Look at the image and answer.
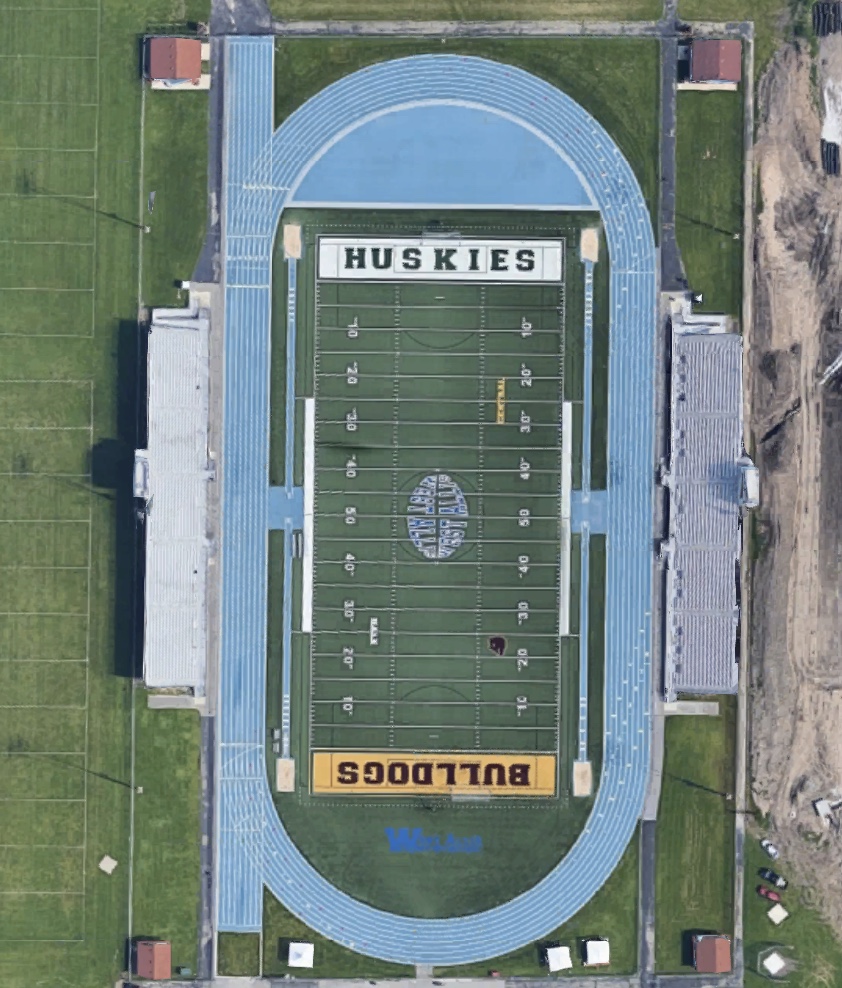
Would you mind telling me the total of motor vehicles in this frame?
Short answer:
3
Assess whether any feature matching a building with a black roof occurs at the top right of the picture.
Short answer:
No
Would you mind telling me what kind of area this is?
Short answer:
sports ground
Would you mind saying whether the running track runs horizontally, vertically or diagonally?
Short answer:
vertically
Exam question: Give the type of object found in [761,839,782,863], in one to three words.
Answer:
car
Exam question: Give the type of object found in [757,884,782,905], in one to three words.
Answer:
car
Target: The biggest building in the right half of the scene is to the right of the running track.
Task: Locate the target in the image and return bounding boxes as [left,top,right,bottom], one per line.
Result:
[692,38,742,83]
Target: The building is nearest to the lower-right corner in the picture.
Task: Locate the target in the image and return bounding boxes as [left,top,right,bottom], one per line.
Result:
[695,935,732,975]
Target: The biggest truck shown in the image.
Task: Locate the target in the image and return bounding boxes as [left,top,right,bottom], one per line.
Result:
[756,866,791,894]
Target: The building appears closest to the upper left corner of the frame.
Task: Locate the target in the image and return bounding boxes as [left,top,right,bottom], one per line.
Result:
[150,36,202,81]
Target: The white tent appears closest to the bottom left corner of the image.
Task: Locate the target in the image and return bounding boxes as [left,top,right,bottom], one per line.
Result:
[289,938,314,967]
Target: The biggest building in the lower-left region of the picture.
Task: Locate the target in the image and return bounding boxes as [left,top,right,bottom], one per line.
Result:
[137,938,172,979]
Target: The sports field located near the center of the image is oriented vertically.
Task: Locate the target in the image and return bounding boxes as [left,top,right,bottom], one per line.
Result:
[266,208,609,918]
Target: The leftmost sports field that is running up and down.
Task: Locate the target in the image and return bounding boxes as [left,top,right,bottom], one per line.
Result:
[0,0,210,988]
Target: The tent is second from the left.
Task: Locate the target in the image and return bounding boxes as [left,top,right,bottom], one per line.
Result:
[545,942,570,971]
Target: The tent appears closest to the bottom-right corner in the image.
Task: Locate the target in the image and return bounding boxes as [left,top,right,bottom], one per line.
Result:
[584,937,609,964]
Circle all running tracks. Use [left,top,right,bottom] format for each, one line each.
[218,37,656,965]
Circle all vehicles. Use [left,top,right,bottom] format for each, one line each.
[761,839,782,863]
[756,866,791,894]
[757,884,782,905]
